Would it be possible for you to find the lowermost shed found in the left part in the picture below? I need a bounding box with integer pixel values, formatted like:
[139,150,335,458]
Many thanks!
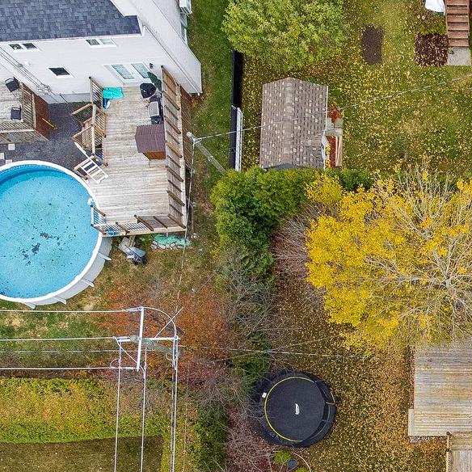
[134,129,167,160]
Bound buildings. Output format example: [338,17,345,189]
[259,76,330,175]
[134,129,167,160]
[0,0,200,103]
